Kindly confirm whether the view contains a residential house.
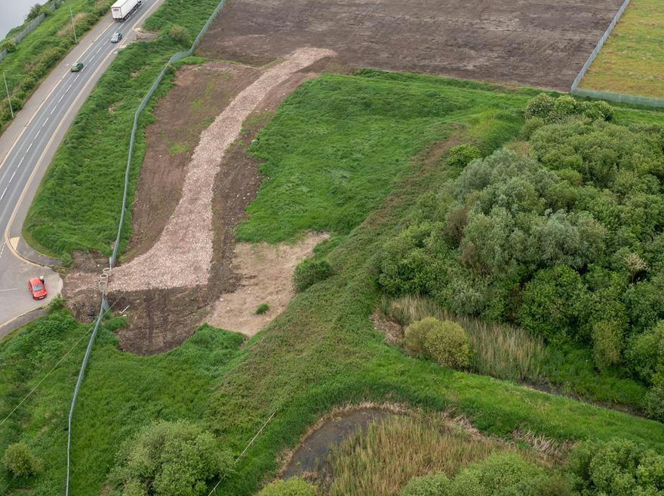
No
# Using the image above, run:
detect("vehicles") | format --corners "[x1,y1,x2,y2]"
[29,274,47,297]
[70,58,82,69]
[110,32,122,41]
[111,0,139,19]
